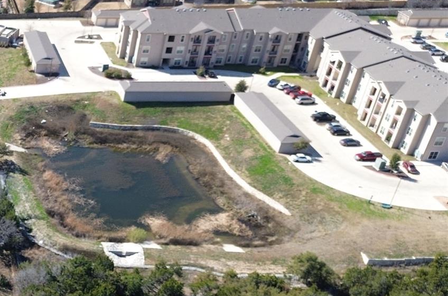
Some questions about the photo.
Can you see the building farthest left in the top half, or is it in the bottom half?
top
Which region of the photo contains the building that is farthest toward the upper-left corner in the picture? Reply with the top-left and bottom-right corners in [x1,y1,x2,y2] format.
[23,22,69,74]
